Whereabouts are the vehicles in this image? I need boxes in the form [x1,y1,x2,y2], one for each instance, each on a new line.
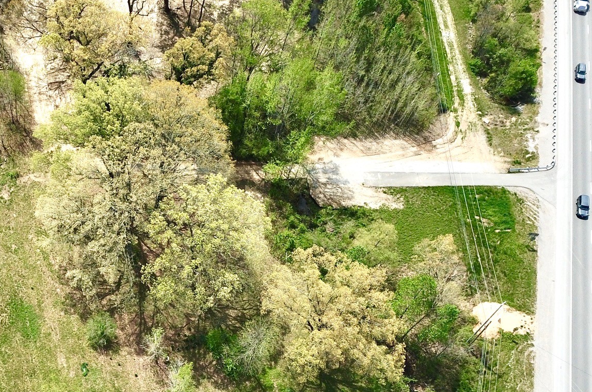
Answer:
[576,60,588,81]
[577,192,591,217]
[575,0,592,13]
